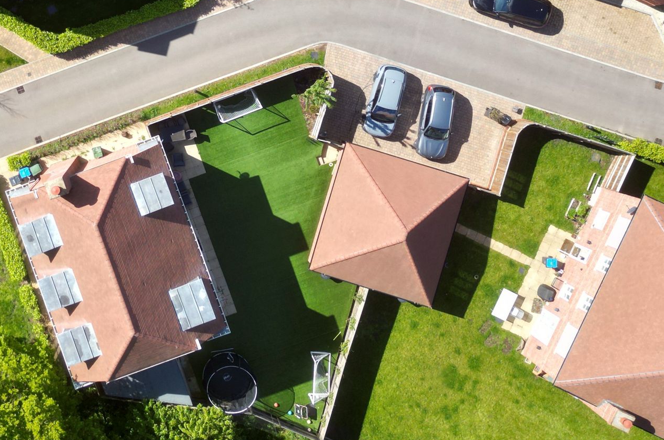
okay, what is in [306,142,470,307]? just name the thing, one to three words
building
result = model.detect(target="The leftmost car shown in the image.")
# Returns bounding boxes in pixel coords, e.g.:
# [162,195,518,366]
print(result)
[362,64,404,138]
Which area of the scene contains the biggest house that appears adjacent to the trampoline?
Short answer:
left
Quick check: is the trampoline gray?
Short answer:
No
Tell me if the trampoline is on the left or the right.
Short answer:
left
